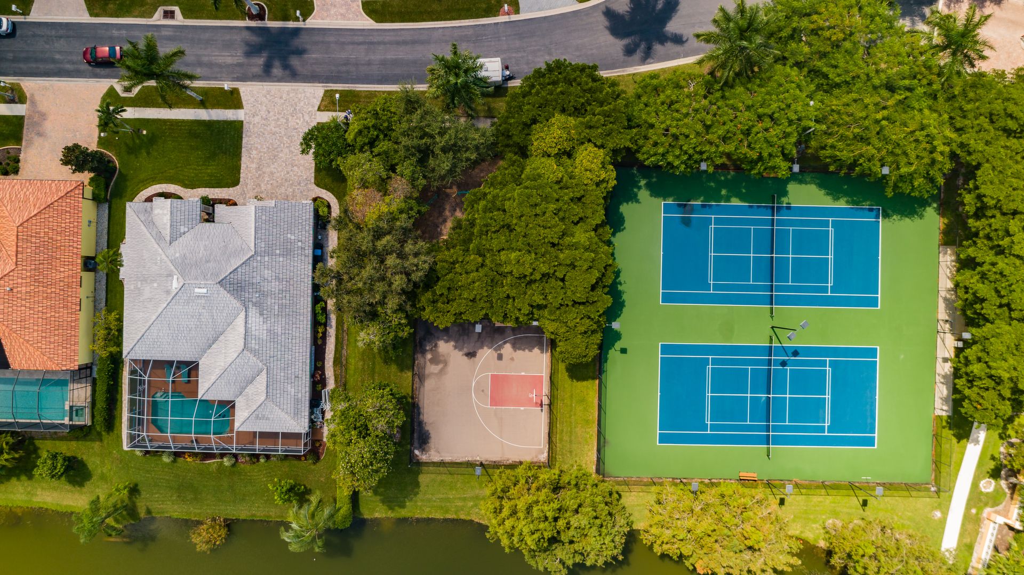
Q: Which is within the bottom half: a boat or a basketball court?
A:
basketball court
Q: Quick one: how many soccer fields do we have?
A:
0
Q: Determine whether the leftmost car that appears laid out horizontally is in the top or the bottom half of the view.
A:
top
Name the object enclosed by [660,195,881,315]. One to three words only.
tennis court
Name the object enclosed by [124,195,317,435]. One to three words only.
house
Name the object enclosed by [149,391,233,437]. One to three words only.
swimming pool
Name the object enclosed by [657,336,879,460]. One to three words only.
tennis court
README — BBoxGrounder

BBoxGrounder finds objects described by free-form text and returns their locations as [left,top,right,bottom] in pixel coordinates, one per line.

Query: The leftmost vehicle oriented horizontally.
[80,42,122,63]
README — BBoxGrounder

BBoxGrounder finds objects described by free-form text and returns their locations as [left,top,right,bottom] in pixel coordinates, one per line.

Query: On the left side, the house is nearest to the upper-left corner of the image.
[0,178,98,369]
